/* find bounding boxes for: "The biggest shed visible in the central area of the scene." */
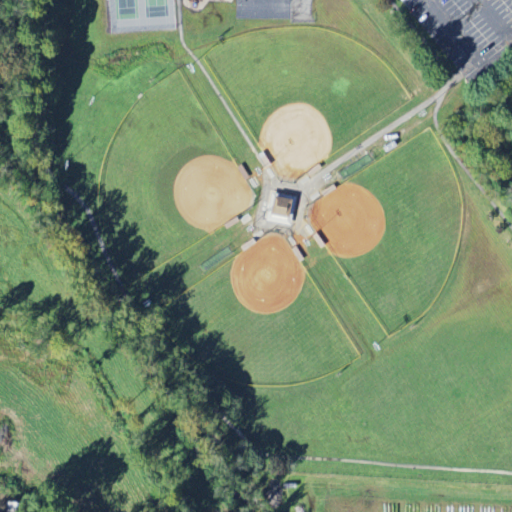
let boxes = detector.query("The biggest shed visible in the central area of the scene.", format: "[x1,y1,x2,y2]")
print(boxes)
[266,191,298,222]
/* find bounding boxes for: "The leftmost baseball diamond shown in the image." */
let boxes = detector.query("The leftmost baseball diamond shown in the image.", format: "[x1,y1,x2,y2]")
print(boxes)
[99,70,254,288]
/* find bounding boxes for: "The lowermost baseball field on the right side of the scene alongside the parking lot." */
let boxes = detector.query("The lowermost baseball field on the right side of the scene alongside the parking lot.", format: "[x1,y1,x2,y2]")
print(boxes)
[311,129,462,336]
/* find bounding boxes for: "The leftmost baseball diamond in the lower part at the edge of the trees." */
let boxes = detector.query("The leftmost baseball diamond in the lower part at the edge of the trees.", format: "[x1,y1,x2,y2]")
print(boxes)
[158,234,358,386]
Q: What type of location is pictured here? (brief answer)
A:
sports ground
